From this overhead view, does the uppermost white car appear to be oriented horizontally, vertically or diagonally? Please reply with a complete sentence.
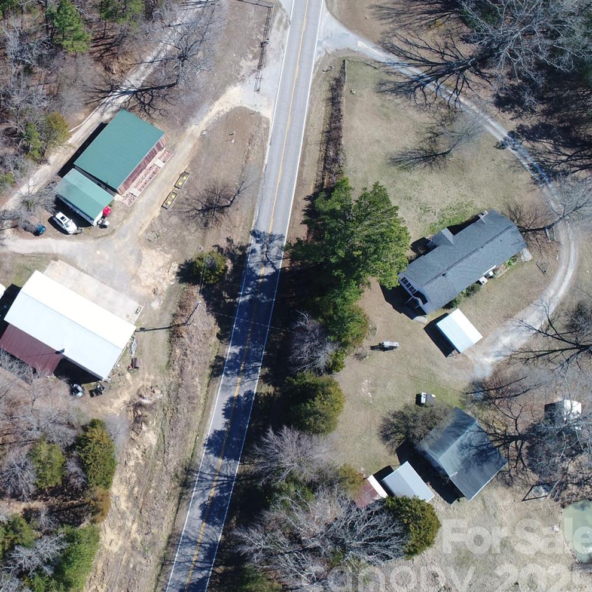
In this picture, the uppermost white car lies diagonally.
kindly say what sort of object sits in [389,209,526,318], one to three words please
house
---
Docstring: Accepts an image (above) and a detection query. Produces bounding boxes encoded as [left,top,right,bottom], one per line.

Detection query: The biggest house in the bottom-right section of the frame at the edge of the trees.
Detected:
[410,409,507,501]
